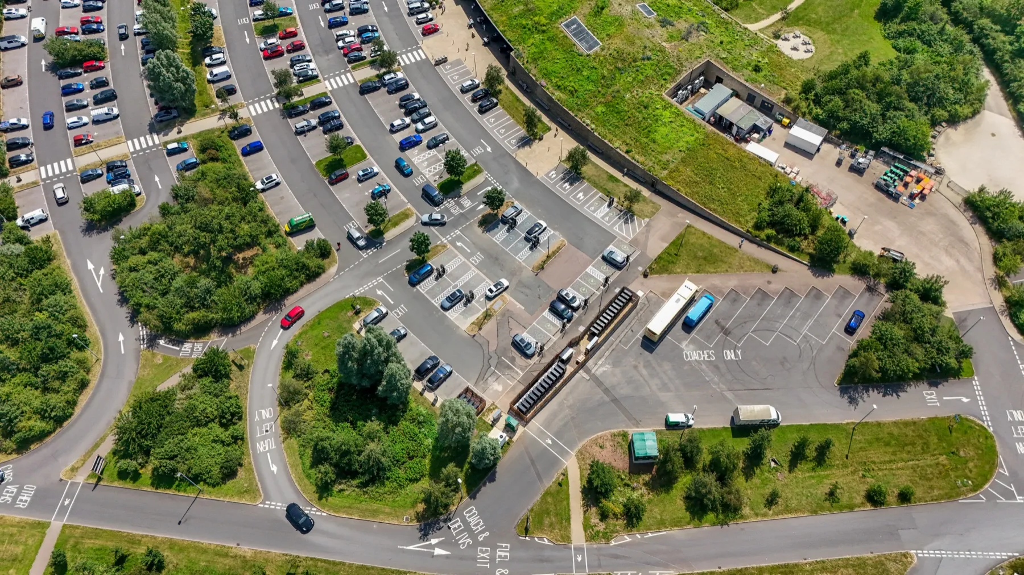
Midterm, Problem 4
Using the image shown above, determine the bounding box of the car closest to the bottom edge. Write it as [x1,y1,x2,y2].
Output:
[286,502,314,534]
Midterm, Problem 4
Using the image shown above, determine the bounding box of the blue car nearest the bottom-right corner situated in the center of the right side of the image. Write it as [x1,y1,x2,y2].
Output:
[844,310,865,334]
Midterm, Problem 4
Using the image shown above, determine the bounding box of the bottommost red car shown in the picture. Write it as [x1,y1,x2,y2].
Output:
[280,305,306,328]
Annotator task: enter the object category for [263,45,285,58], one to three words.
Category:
vehicle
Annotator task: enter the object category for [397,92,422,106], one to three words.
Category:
car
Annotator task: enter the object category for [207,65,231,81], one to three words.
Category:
vehicle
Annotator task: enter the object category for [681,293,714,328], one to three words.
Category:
van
